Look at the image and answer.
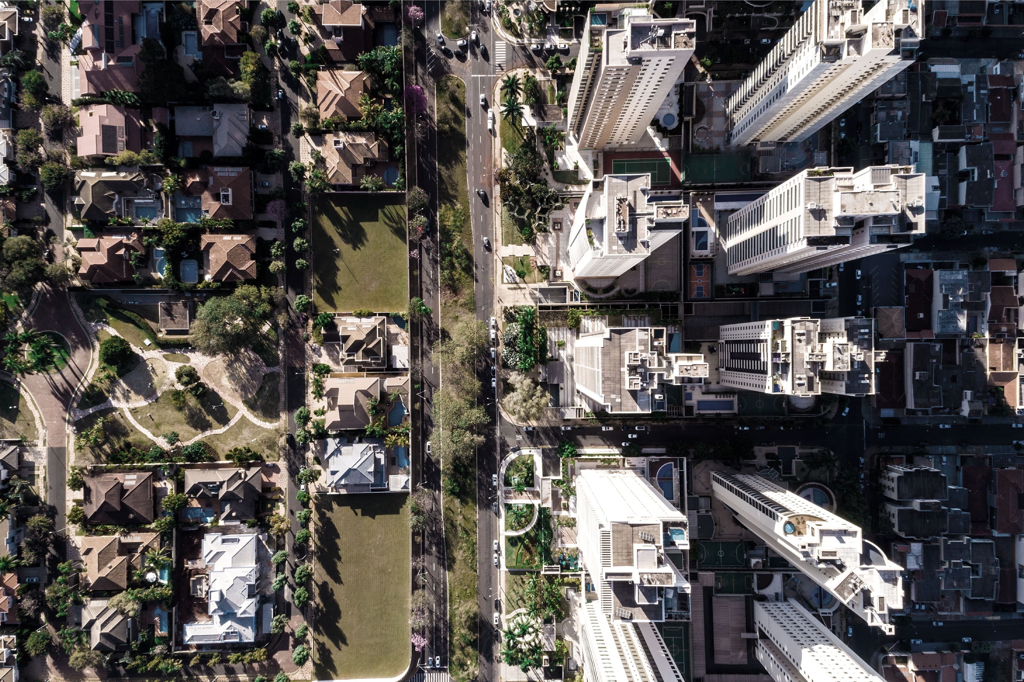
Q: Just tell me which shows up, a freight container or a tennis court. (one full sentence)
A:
I can see a tennis court in this picture.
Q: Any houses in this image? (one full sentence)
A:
Yes, there's a house down there.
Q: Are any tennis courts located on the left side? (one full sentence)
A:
No, the scene shows no tennis court on the left side.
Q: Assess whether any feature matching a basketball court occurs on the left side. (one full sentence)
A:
No, I can find no basketball court on the left side.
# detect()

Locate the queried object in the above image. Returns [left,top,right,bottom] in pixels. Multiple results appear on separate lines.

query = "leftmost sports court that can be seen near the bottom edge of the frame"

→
[656,622,690,682]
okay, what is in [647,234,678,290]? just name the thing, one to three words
sports court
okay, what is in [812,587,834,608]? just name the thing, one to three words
swimming pool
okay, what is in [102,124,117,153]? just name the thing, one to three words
solar panel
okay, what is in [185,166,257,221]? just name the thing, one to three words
house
